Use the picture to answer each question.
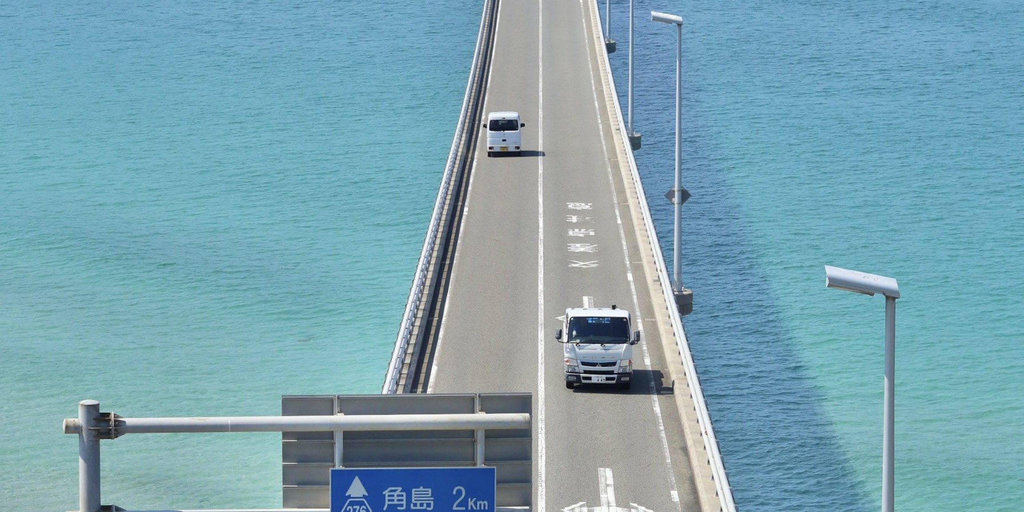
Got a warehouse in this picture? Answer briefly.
No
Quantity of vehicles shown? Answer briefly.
2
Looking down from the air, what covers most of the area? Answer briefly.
water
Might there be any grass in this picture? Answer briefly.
No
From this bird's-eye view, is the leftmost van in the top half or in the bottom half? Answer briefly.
top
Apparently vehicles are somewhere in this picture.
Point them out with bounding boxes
[483,111,525,157]
[555,305,640,389]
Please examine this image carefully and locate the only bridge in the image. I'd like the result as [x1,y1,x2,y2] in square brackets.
[387,0,733,512]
